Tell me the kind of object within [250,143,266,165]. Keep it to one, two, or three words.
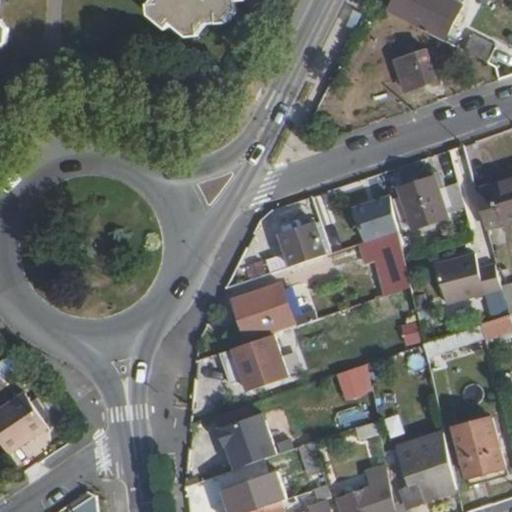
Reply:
car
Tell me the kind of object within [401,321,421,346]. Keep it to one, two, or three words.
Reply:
shed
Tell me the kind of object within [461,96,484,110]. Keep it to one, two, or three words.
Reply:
vehicle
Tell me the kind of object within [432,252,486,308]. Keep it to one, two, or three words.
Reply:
house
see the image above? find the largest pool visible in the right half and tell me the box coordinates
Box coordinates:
[334,402,370,429]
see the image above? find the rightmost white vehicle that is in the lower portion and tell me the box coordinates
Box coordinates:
[134,361,146,384]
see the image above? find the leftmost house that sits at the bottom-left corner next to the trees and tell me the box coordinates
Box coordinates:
[0,384,53,468]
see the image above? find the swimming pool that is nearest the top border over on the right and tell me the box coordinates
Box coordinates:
[408,352,426,371]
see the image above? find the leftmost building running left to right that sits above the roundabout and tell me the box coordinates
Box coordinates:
[142,0,240,44]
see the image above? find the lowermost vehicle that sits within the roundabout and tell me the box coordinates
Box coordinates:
[172,278,188,300]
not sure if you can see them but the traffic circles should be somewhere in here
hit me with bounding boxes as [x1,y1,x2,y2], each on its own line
[0,151,214,365]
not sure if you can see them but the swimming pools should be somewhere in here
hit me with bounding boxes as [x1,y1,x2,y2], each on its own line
[408,352,426,371]
[334,402,370,429]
